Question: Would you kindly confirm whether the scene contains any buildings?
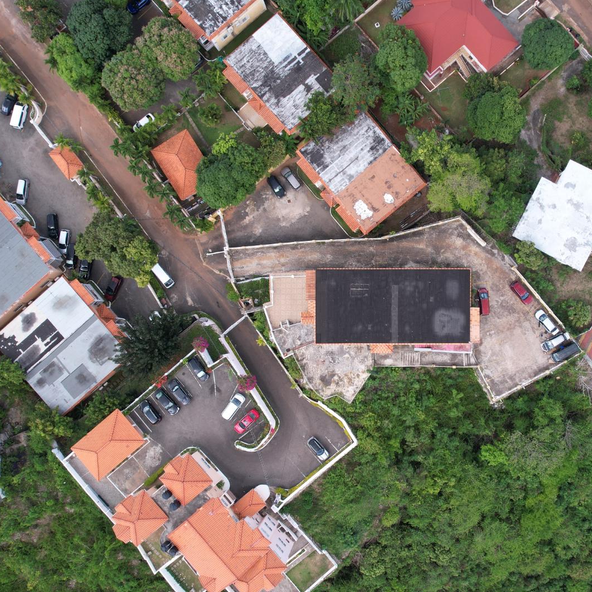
Yes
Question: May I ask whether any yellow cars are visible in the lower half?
No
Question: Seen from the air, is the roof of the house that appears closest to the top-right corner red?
Yes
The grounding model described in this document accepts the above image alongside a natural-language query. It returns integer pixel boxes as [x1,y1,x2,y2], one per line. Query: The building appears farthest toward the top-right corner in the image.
[398,0,521,92]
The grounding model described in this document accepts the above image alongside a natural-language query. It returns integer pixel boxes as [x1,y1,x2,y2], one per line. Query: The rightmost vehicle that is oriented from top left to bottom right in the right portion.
[533,305,560,337]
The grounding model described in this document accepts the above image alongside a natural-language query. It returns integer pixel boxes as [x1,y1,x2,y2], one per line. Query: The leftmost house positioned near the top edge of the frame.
[154,0,267,60]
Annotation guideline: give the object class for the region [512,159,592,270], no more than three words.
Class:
house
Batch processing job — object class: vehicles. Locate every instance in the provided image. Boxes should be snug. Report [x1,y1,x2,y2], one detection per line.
[539,332,570,353]
[477,287,492,317]
[14,176,33,207]
[533,305,560,337]
[142,305,173,324]
[139,396,163,427]
[55,227,74,259]
[79,254,93,285]
[45,211,61,242]
[305,432,330,464]
[167,376,192,407]
[509,278,533,307]
[221,391,248,423]
[0,88,22,121]
[65,242,80,272]
[187,353,212,383]
[549,342,580,365]
[9,100,30,135]
[280,163,302,193]
[133,111,160,134]
[266,173,287,202]
[154,387,179,418]
[232,408,263,434]
[149,259,178,292]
